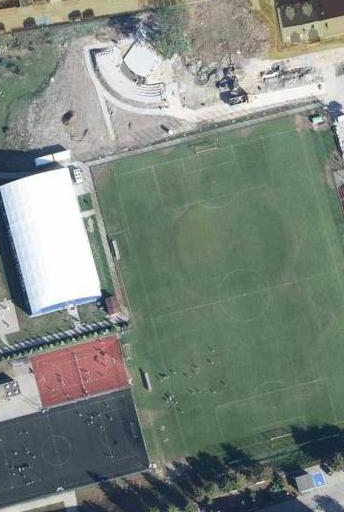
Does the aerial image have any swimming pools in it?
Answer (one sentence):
No, no swimming pool is visible in the scene.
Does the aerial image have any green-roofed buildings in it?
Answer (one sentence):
No, there's no green-roofed building here.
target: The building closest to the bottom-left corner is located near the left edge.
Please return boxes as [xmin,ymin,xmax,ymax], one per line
[0,381,21,401]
